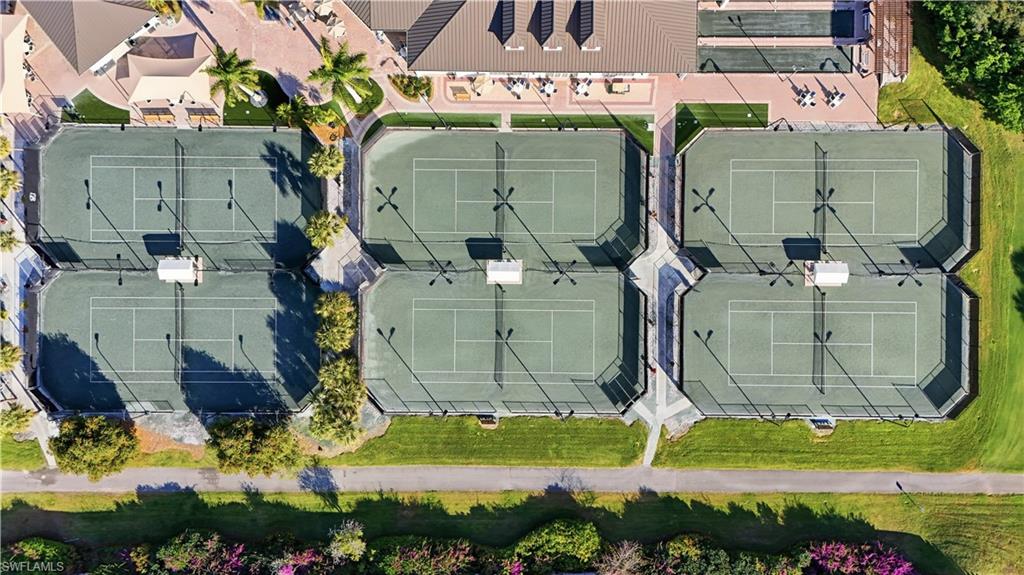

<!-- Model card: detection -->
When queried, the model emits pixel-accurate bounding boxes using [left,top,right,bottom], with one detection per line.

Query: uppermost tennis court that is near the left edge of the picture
[38,124,322,270]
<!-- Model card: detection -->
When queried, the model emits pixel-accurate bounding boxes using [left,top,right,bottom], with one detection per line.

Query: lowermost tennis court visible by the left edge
[38,269,322,413]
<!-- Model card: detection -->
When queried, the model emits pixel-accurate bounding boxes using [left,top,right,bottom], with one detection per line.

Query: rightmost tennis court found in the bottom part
[680,272,969,418]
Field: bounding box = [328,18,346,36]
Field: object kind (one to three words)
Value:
umbrella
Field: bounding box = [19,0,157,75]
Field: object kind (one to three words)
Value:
building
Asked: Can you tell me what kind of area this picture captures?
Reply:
sports ground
